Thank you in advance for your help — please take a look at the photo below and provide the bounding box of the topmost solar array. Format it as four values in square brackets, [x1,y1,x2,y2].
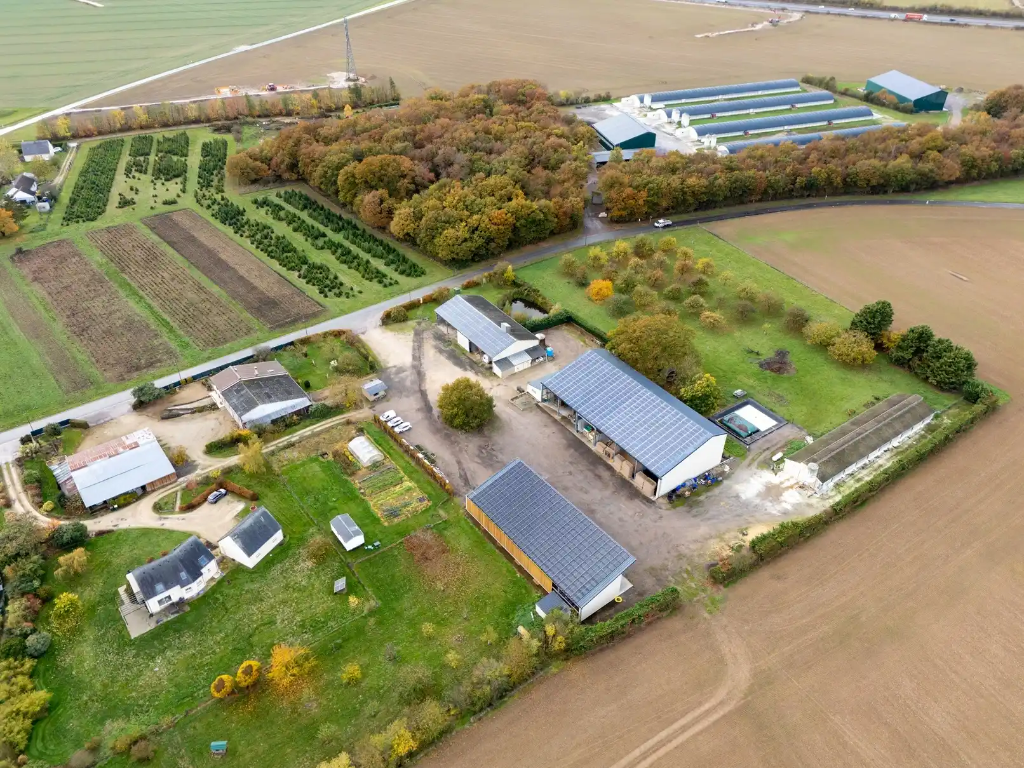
[436,296,514,356]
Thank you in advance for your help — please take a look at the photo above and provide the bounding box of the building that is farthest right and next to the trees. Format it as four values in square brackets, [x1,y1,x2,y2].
[866,70,955,113]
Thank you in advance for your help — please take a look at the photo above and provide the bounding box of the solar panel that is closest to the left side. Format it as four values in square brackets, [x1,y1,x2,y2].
[331,575,347,593]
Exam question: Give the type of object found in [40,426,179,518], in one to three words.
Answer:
barn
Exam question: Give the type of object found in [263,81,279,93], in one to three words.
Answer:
vehicle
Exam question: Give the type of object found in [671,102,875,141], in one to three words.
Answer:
house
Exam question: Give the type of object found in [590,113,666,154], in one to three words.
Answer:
building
